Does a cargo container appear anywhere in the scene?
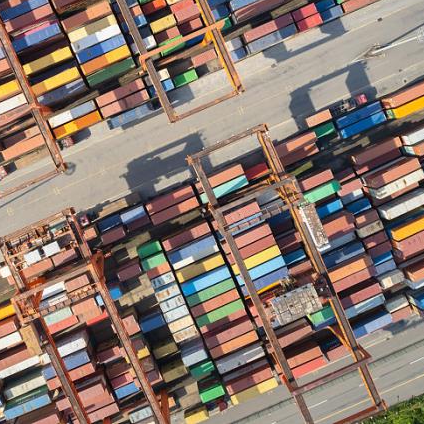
Yes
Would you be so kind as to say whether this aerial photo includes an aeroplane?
No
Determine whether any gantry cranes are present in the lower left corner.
Yes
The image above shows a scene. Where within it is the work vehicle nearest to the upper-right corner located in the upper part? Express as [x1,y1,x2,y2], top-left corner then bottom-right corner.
[346,92,370,109]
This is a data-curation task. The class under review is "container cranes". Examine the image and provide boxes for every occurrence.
[187,126,387,424]
[0,207,183,424]
[0,18,67,198]
[114,0,246,125]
